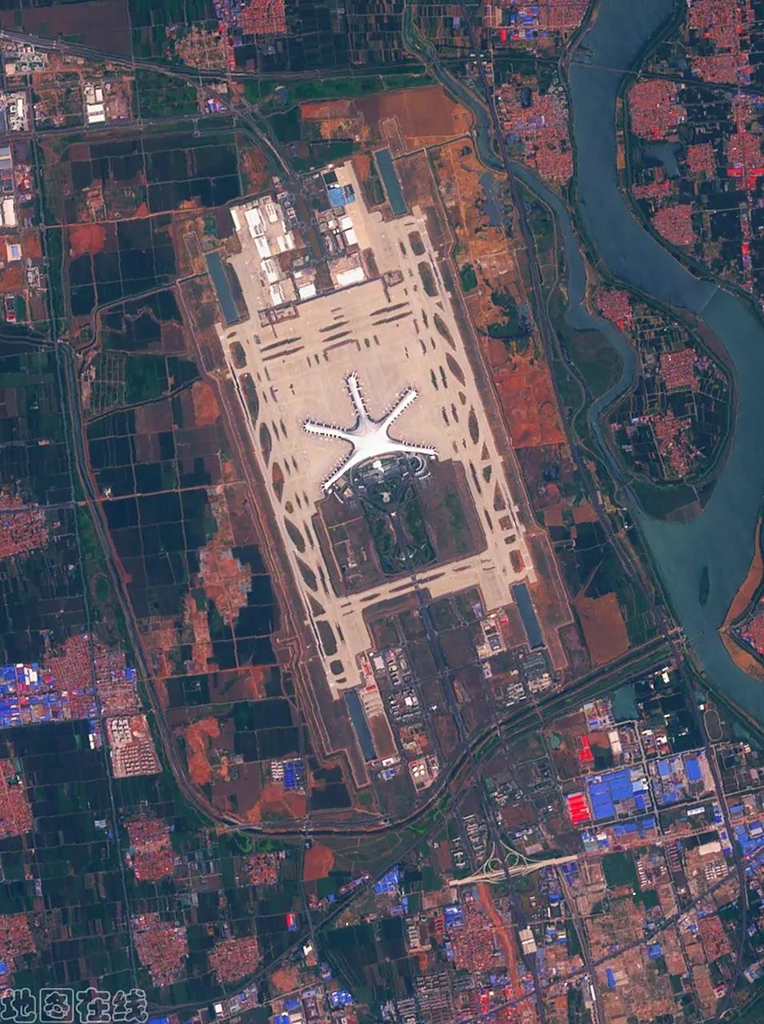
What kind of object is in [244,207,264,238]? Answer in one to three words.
hangar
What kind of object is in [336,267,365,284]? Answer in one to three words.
shed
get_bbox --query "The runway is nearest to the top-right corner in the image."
[420,210,532,560]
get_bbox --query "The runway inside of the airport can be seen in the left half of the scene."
[225,357,334,688]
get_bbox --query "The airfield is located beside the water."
[178,116,574,789]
